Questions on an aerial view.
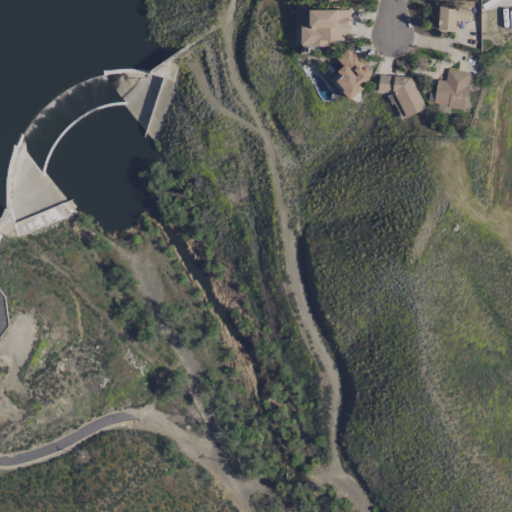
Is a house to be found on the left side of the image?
No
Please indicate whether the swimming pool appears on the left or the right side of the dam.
right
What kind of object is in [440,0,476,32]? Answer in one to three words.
house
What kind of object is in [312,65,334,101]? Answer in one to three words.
swimming pool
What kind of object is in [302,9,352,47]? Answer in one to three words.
house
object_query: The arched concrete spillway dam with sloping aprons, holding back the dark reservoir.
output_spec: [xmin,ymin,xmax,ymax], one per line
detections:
[0,38,204,240]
